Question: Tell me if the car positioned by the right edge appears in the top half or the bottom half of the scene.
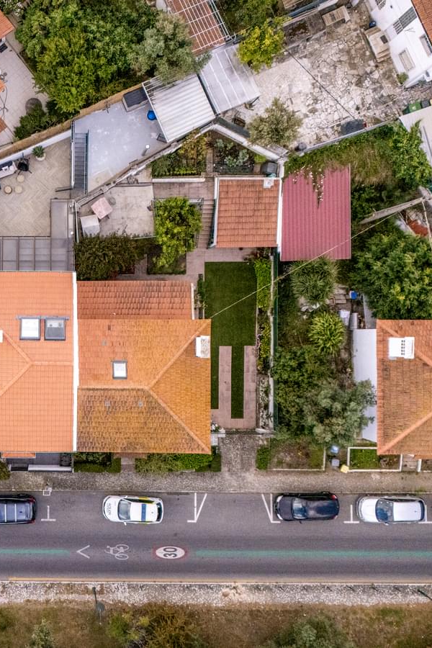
bottom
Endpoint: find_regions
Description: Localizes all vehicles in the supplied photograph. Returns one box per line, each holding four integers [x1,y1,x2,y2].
[273,490,339,524]
[102,493,163,525]
[356,492,428,526]
[0,492,37,522]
